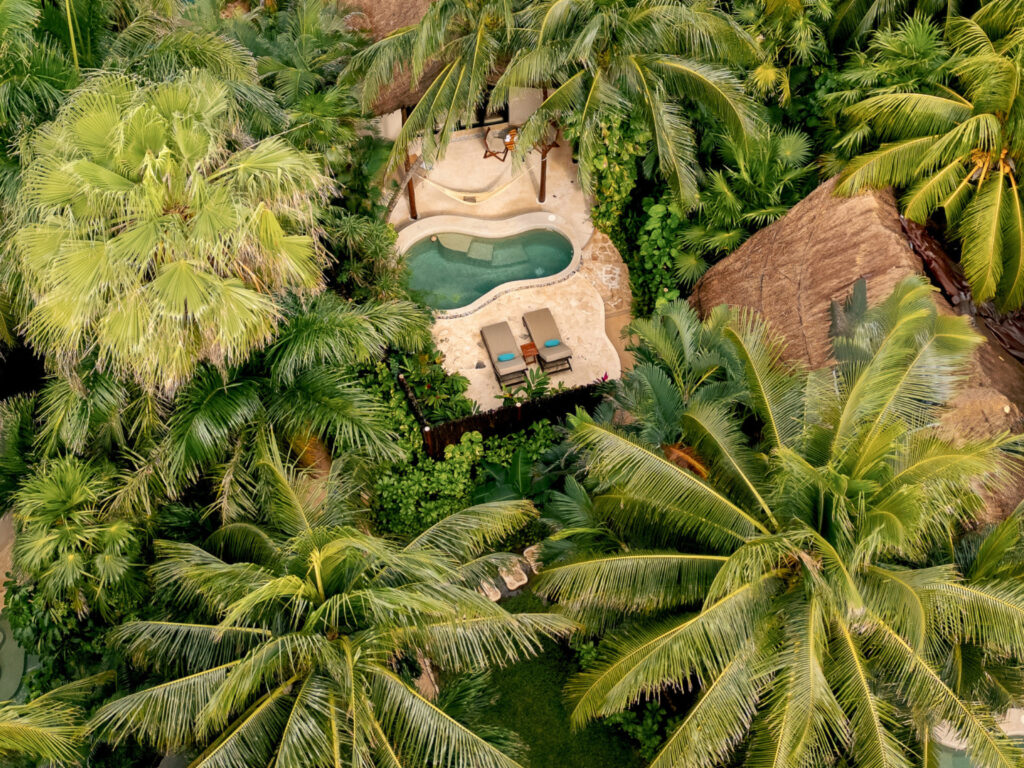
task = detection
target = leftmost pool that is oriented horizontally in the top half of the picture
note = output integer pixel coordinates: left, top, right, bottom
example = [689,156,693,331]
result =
[388,210,593,321]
